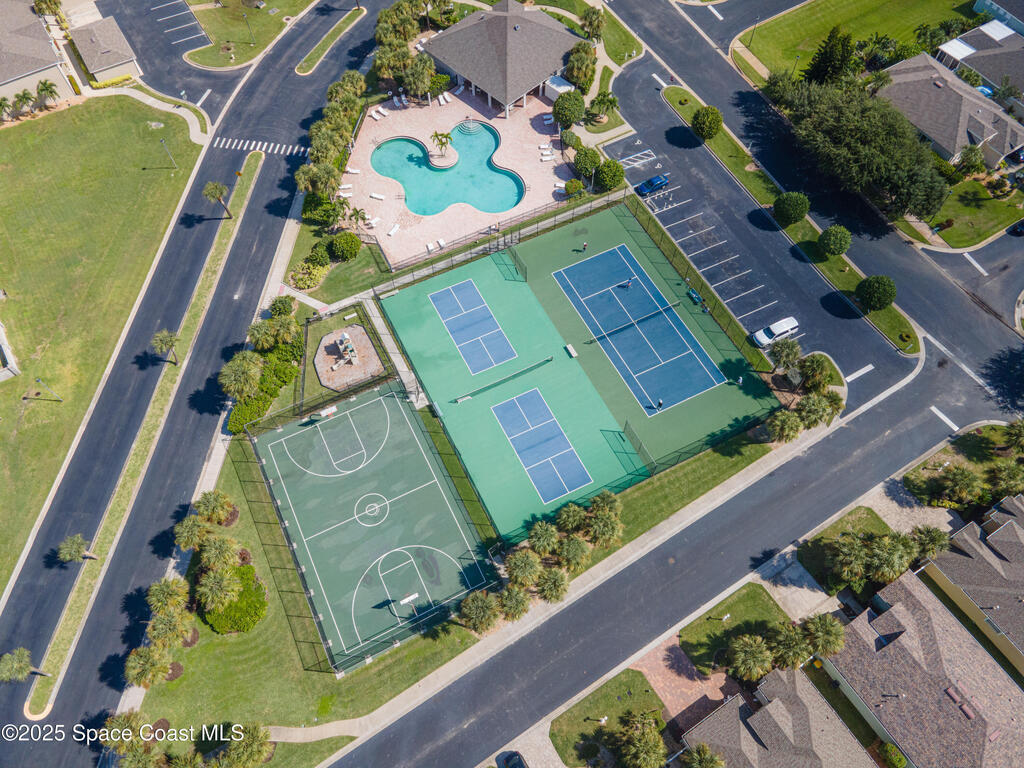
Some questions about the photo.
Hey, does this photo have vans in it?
Yes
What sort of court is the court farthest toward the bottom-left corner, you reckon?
basketball court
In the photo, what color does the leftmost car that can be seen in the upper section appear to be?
blue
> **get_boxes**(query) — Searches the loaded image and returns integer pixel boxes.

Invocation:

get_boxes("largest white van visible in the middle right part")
[756,315,800,345]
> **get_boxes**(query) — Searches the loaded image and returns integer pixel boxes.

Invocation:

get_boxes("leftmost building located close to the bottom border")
[681,662,881,768]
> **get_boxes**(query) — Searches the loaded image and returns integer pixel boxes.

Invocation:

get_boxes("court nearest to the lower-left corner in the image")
[256,382,500,674]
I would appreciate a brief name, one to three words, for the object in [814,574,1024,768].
house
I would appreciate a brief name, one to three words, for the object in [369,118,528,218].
swimming pool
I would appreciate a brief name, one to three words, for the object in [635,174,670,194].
car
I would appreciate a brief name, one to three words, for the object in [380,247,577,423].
sports court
